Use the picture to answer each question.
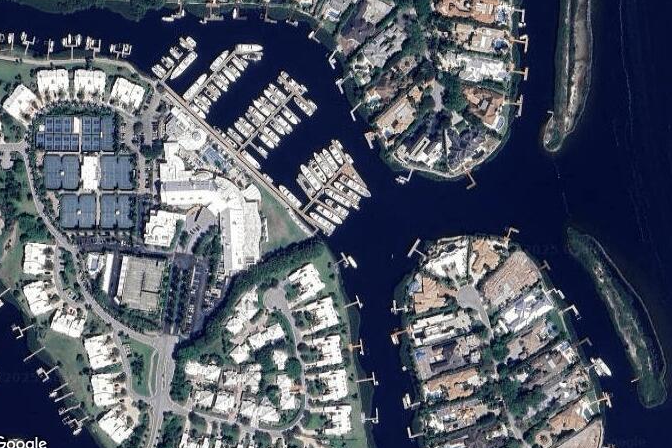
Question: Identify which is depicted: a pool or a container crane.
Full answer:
Looking from above, you can make out a pool.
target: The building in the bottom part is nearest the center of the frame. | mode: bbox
[286,265,326,304]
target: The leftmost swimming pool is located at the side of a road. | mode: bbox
[89,254,104,274]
